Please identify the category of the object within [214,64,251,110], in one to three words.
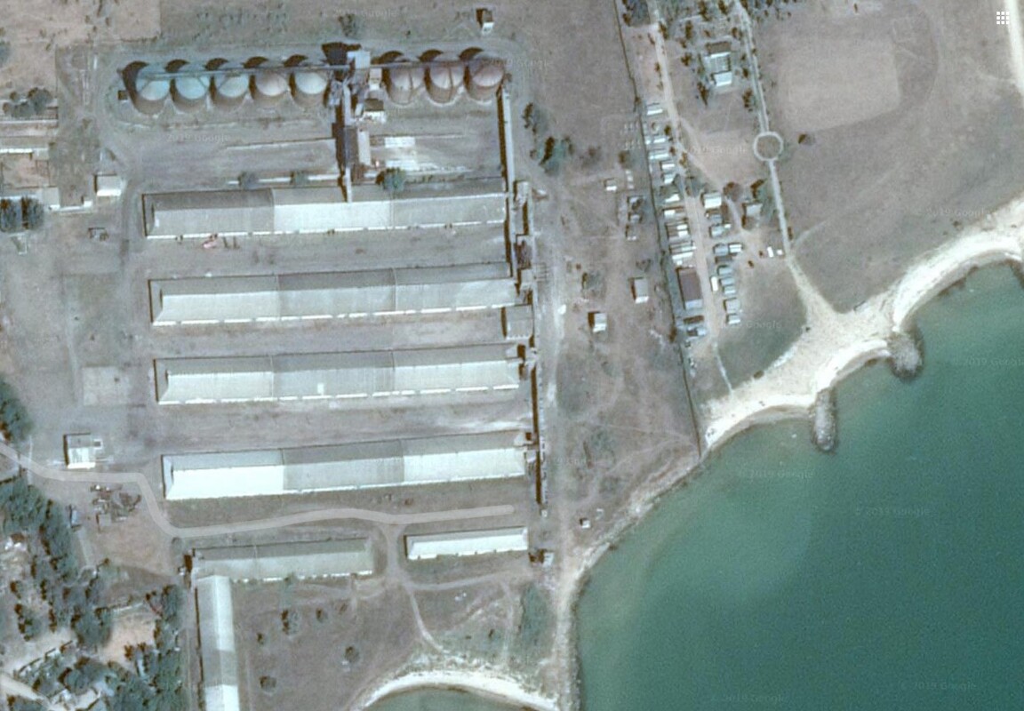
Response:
silo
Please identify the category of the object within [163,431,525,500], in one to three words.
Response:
building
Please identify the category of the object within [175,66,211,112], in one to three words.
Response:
silo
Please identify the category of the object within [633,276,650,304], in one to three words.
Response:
house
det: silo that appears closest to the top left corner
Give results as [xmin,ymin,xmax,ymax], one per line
[135,67,172,114]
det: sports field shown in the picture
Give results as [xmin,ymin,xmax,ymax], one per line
[776,51,897,131]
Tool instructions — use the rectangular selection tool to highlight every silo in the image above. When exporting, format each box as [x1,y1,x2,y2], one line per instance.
[388,58,425,104]
[214,64,251,110]
[293,61,329,107]
[429,56,465,102]
[175,66,211,112]
[468,54,505,100]
[135,67,172,114]
[254,63,290,109]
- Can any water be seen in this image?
Yes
